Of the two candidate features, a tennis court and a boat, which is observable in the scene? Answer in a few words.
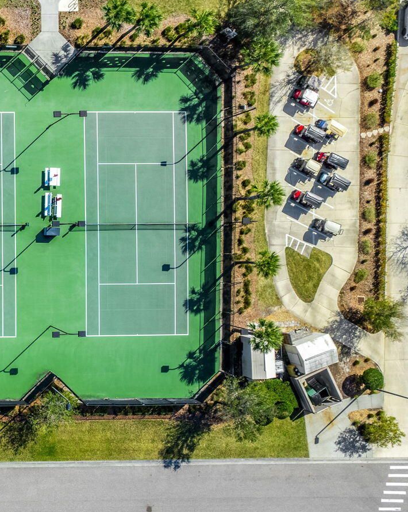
tennis court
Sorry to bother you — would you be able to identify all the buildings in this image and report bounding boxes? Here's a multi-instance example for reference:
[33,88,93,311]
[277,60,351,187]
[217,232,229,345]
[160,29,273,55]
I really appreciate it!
[284,331,339,375]
[236,332,274,379]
